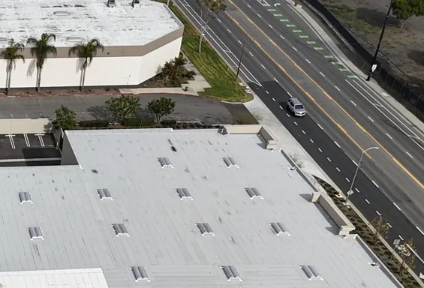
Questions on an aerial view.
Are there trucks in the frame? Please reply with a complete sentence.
No, I can't see a single truck in this photo.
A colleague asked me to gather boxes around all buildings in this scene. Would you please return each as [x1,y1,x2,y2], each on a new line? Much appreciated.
[0,0,190,87]
[0,126,404,288]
